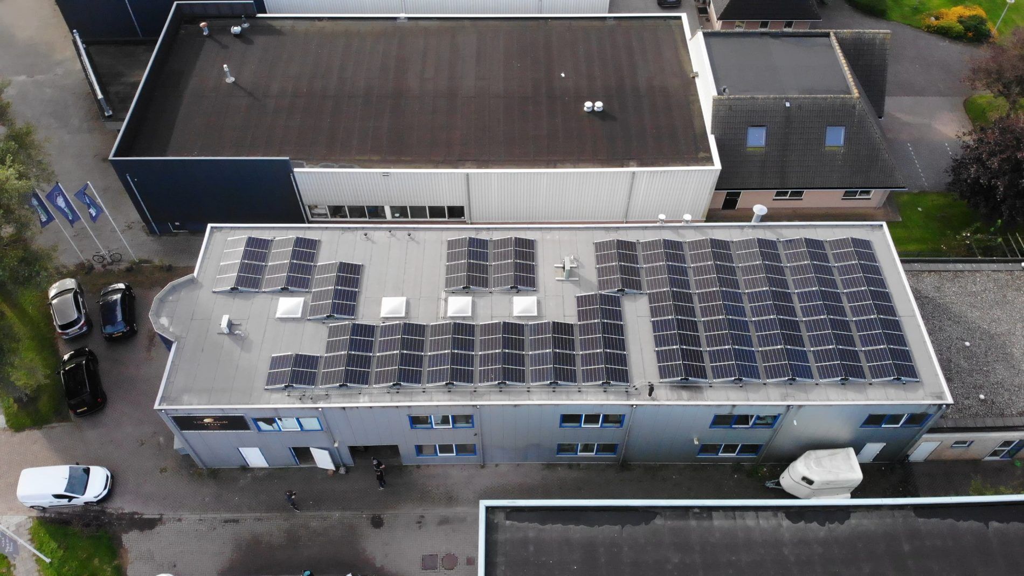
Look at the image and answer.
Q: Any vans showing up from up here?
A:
Yes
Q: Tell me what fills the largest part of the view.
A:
buildings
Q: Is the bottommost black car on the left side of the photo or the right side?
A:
left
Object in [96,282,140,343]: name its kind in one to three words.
car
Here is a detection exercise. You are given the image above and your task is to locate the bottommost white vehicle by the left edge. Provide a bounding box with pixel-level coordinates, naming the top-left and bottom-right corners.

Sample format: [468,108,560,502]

[10,456,114,507]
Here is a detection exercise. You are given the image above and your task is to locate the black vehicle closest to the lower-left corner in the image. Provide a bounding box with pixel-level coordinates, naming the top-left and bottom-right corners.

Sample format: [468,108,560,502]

[59,342,111,418]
